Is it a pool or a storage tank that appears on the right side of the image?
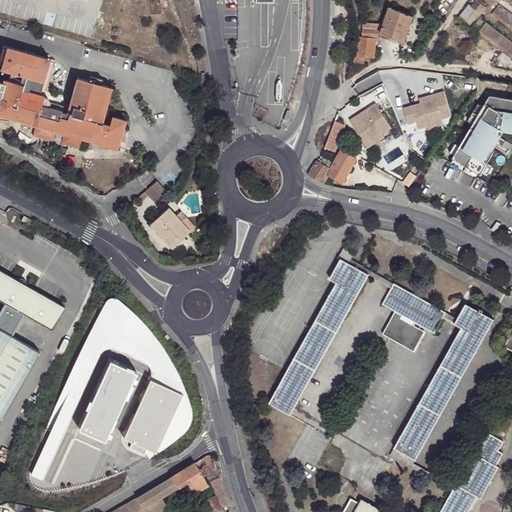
pool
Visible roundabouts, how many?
2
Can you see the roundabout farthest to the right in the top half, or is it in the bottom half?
top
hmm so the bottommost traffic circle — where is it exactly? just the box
[163,270,231,338]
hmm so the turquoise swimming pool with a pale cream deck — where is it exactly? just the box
[182,192,201,214]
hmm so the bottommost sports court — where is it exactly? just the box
[246,236,345,369]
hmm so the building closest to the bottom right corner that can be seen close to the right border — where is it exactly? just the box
[440,437,504,512]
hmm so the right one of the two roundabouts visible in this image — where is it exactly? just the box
[217,135,304,221]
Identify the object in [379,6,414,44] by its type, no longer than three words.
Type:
house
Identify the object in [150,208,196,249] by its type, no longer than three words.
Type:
house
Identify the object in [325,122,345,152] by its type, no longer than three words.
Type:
shed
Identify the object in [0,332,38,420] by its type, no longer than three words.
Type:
building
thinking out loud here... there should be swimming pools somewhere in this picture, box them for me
[384,146,404,165]
[182,192,201,214]
[496,154,506,166]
